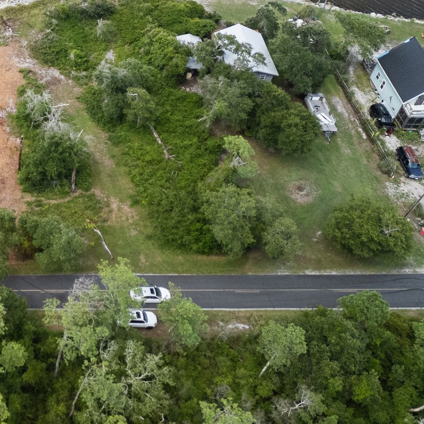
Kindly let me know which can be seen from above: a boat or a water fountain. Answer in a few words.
boat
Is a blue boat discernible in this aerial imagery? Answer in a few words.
No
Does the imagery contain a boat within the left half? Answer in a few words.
No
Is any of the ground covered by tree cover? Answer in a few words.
Yes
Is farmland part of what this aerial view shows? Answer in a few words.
No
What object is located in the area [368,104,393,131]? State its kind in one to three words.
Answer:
car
